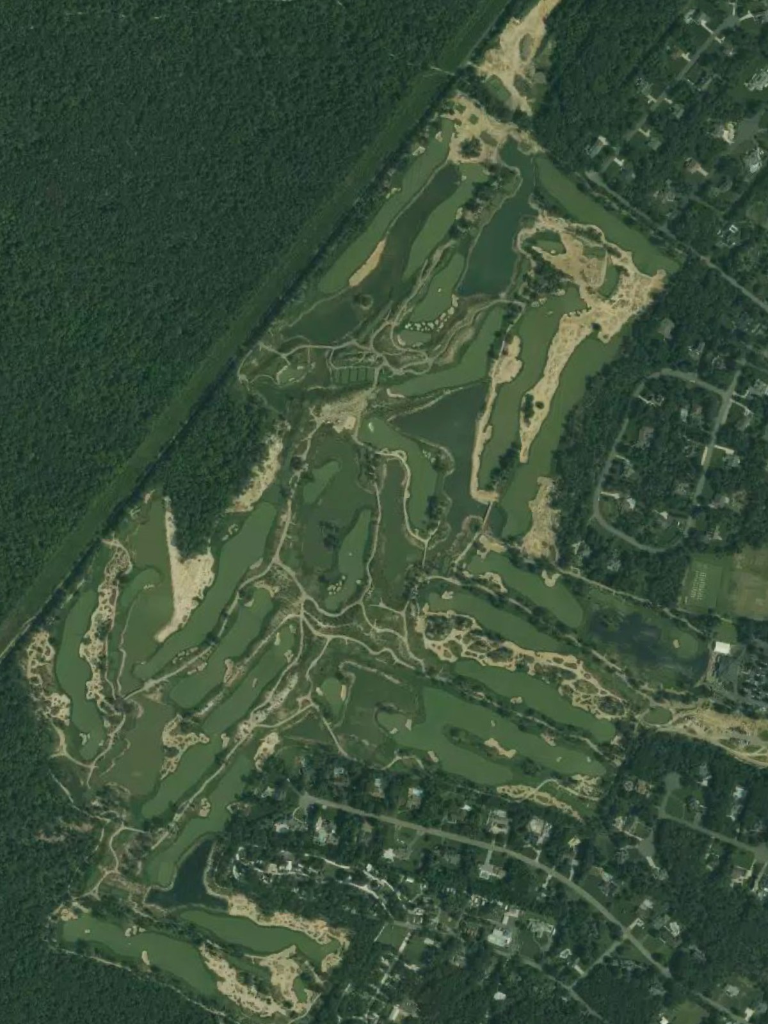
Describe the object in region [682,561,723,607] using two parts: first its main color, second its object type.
green sports field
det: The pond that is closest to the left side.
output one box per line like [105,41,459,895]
[143,837,227,913]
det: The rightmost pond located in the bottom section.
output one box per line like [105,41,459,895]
[589,613,708,680]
